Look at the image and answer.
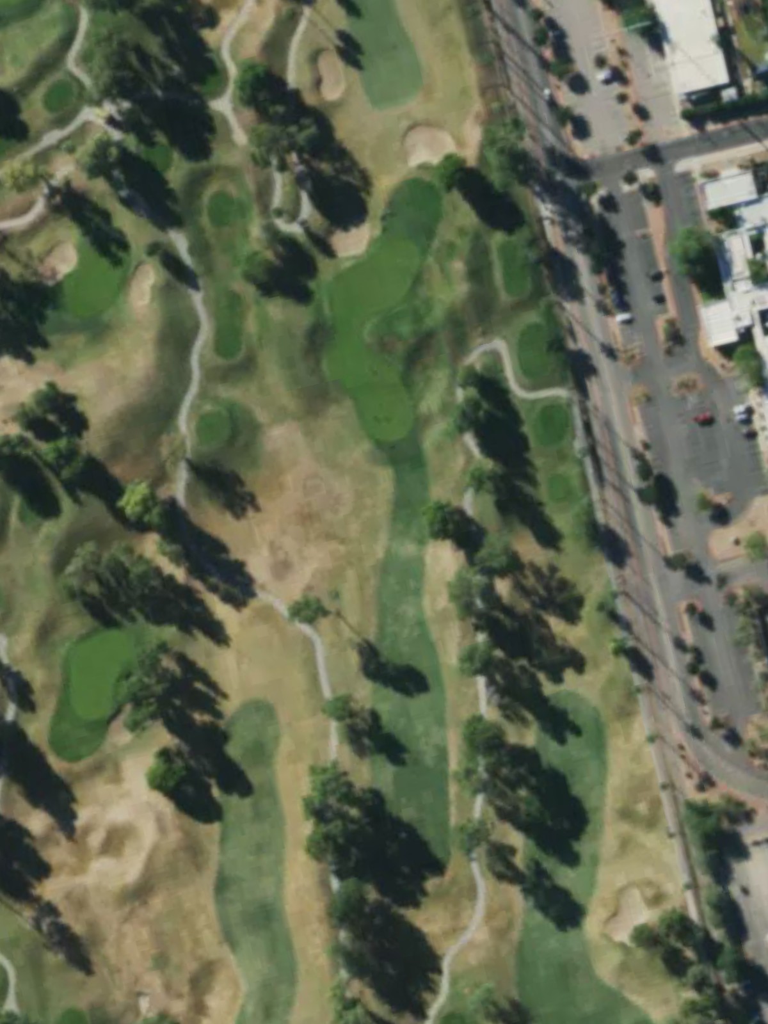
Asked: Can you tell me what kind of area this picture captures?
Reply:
golf course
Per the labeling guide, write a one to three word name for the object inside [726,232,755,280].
building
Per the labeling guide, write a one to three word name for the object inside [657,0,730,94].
building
